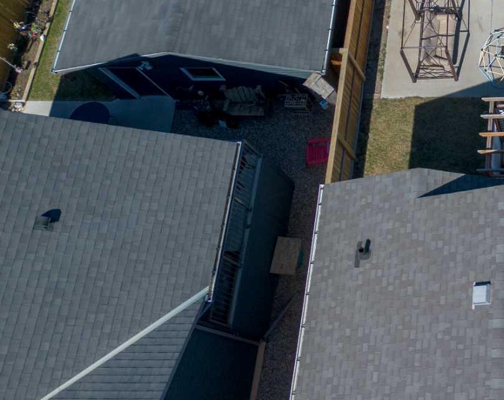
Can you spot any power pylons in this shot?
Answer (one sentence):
No, no power pylon is visible in the view.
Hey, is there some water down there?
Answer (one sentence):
No, there's no water in this view.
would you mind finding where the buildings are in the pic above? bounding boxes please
[291,167,504,400]
[0,110,289,400]
[52,0,350,103]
